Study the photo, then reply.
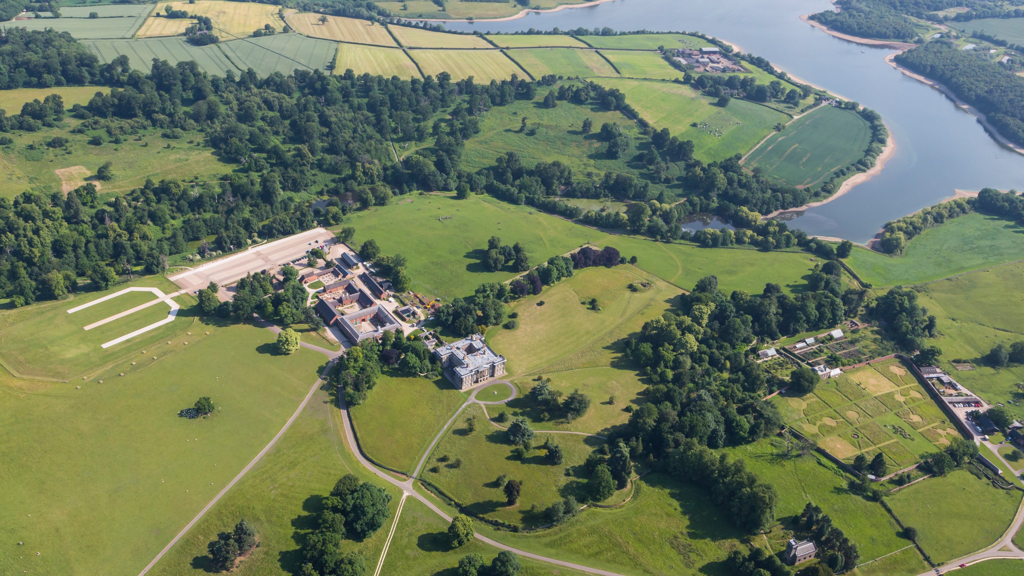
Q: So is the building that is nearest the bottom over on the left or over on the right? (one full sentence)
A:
The building that is nearest the bottom is on the right side of the image.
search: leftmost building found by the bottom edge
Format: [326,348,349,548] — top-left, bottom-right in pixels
[780,539,817,566]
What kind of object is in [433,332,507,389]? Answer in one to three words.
house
